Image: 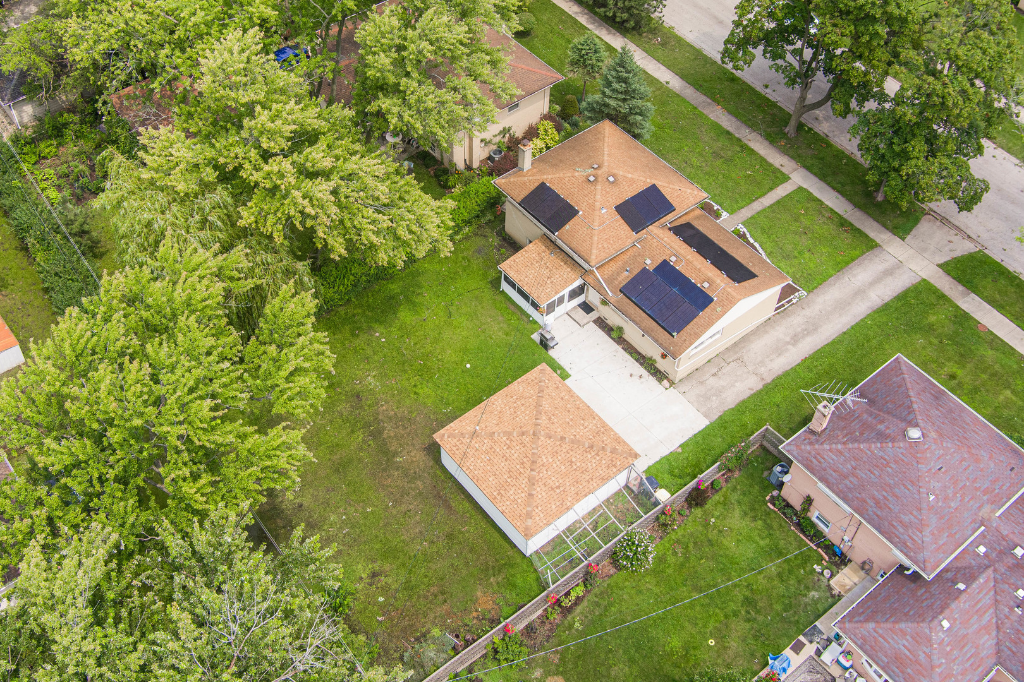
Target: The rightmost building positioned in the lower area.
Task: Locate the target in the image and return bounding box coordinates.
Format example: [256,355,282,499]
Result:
[776,352,1024,682]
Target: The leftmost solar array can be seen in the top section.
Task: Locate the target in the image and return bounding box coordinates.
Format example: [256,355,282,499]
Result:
[519,181,581,235]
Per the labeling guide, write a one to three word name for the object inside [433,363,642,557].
building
